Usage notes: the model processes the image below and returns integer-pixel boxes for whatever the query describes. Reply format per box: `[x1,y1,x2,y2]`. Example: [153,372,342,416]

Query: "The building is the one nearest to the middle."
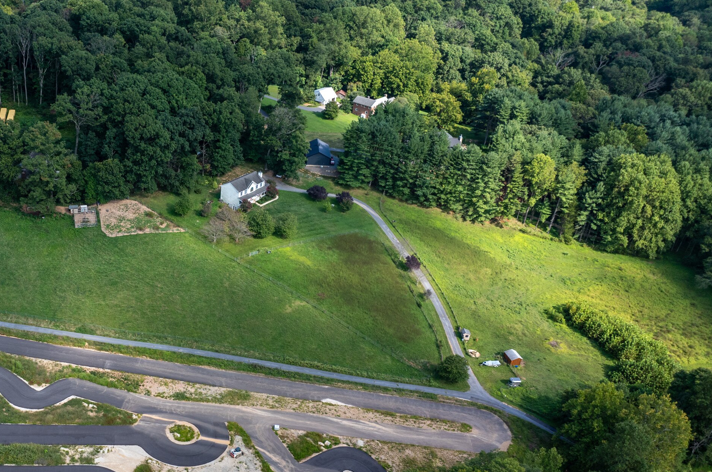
[304,136,331,167]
